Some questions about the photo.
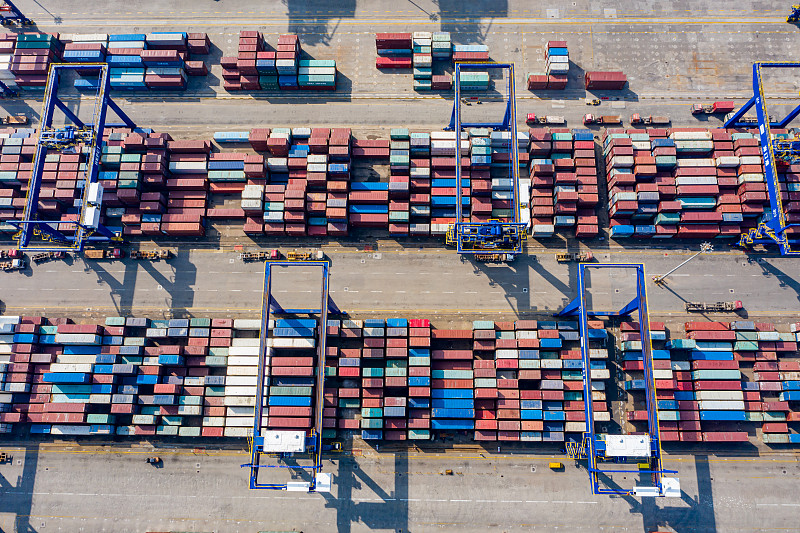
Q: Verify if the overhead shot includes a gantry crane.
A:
Yes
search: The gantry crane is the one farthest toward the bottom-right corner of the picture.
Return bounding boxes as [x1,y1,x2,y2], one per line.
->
[553,259,685,499]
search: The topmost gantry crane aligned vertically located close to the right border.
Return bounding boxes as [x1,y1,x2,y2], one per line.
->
[716,57,800,257]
